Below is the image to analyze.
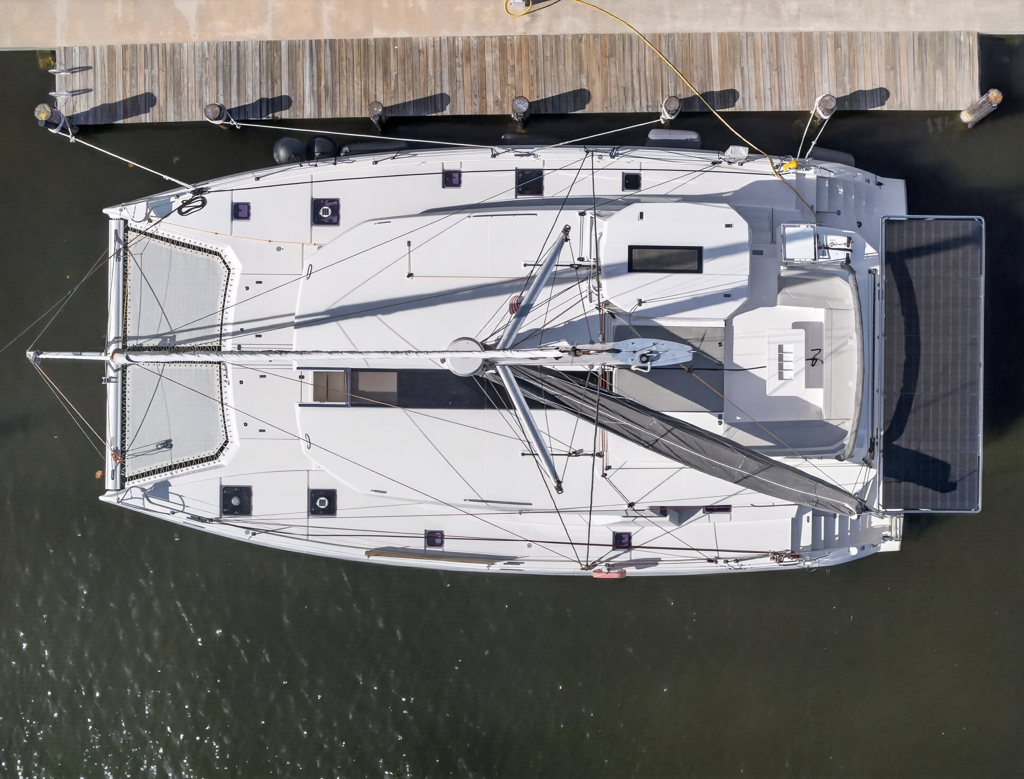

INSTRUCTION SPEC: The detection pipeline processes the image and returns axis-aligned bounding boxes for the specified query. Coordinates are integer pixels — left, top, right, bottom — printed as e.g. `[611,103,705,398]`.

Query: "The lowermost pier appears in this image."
[55,32,979,125]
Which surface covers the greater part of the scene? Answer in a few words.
water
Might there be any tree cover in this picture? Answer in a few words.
No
